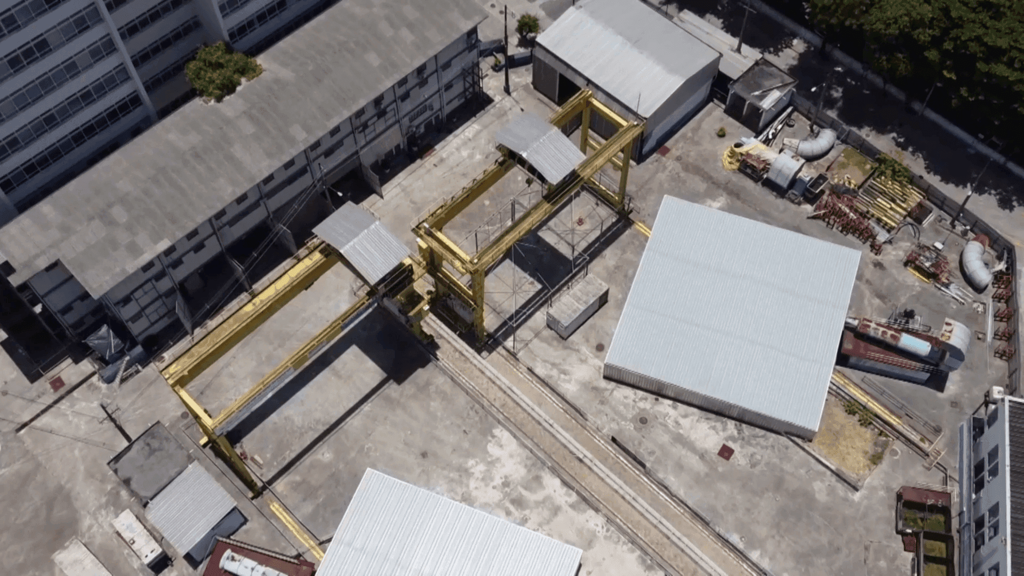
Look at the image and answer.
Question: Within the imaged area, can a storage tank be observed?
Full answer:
Yes, looking at the shot, I can spot a storage tank.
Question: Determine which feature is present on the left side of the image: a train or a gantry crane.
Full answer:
It is a gantry crane that can be seen on the left side of the image.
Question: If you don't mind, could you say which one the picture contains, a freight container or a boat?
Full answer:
Of the two, only a freight container appears.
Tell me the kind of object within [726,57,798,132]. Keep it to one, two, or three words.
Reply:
shed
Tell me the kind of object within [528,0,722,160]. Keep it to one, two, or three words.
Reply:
hangar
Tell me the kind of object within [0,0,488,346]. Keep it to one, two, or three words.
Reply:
building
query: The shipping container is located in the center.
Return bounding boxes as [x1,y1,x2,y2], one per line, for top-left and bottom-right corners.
[547,274,608,339]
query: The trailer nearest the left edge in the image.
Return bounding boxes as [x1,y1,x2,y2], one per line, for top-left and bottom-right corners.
[53,539,107,576]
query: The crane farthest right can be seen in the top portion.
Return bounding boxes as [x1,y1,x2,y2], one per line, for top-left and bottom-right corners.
[406,85,646,345]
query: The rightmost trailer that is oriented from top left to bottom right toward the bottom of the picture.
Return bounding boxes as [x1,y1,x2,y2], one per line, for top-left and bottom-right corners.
[111,508,170,574]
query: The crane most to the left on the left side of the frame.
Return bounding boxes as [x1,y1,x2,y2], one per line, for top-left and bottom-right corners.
[154,238,441,497]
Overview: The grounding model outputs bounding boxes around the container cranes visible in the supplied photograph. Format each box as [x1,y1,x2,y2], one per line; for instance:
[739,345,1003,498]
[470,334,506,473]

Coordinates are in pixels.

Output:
[406,85,646,345]
[154,238,441,497]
